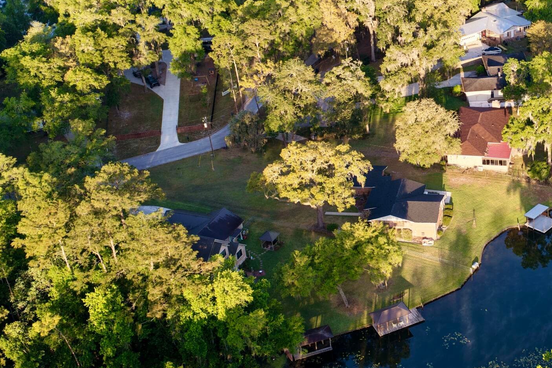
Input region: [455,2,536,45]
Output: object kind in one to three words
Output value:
house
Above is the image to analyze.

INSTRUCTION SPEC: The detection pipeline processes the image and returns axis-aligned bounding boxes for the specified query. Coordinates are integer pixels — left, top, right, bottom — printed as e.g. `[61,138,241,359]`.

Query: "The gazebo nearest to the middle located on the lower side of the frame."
[260,231,280,247]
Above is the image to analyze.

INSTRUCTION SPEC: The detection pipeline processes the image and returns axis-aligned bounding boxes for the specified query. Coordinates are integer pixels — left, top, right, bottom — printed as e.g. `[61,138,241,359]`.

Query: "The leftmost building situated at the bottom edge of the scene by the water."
[296,325,334,365]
